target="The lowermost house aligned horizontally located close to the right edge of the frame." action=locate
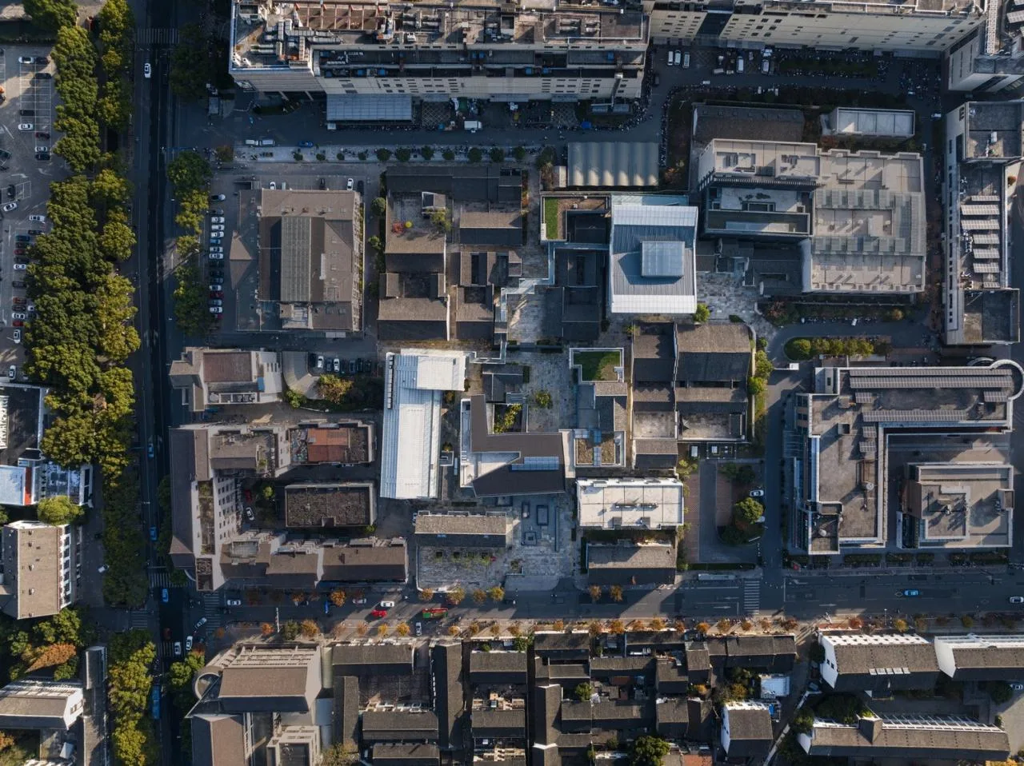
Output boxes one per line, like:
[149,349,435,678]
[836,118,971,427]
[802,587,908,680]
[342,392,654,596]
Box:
[802,710,1014,761]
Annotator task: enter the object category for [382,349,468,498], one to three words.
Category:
building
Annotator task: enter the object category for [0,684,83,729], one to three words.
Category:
house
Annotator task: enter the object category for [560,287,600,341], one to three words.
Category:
house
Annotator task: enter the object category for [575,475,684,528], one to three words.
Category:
building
